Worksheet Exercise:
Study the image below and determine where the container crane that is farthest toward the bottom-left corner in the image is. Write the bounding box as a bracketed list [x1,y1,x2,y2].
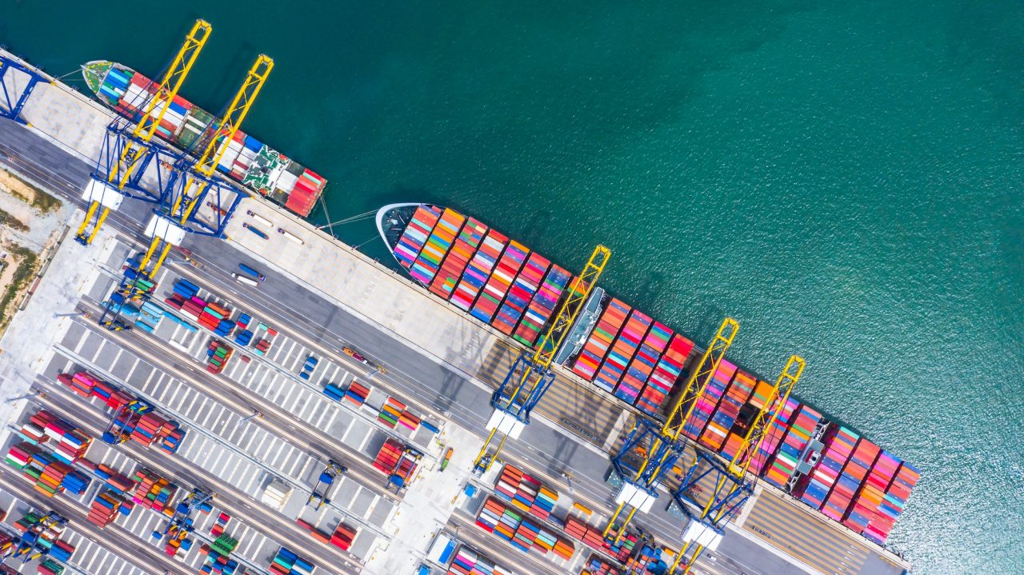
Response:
[14,508,72,566]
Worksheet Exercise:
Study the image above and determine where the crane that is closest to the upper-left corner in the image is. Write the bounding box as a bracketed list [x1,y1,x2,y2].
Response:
[0,54,55,127]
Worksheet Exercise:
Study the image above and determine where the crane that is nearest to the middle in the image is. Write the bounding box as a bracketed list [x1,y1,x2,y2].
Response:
[471,247,611,475]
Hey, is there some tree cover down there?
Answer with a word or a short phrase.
No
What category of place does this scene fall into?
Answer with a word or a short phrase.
port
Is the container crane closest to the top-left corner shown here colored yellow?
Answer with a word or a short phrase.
No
